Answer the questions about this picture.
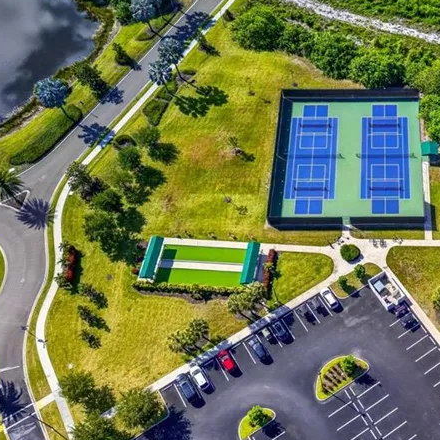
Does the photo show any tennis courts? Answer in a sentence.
Yes, this view includes a tennis court.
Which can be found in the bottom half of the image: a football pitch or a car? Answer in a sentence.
You can see a car in the bottom half of the image.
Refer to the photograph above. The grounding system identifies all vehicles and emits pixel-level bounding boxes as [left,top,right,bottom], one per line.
[218,347,237,372]
[271,320,291,344]
[176,373,195,400]
[402,316,415,330]
[191,363,210,389]
[248,335,267,360]
[261,326,273,341]
[296,306,307,321]
[311,297,322,312]
[321,286,340,309]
